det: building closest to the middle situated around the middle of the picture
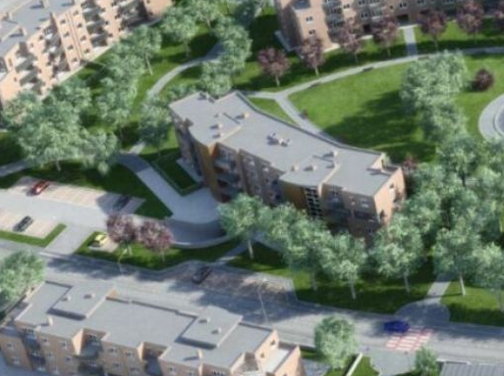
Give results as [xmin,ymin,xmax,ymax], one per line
[169,92,405,241]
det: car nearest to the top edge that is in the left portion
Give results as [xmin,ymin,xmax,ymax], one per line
[29,177,49,193]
